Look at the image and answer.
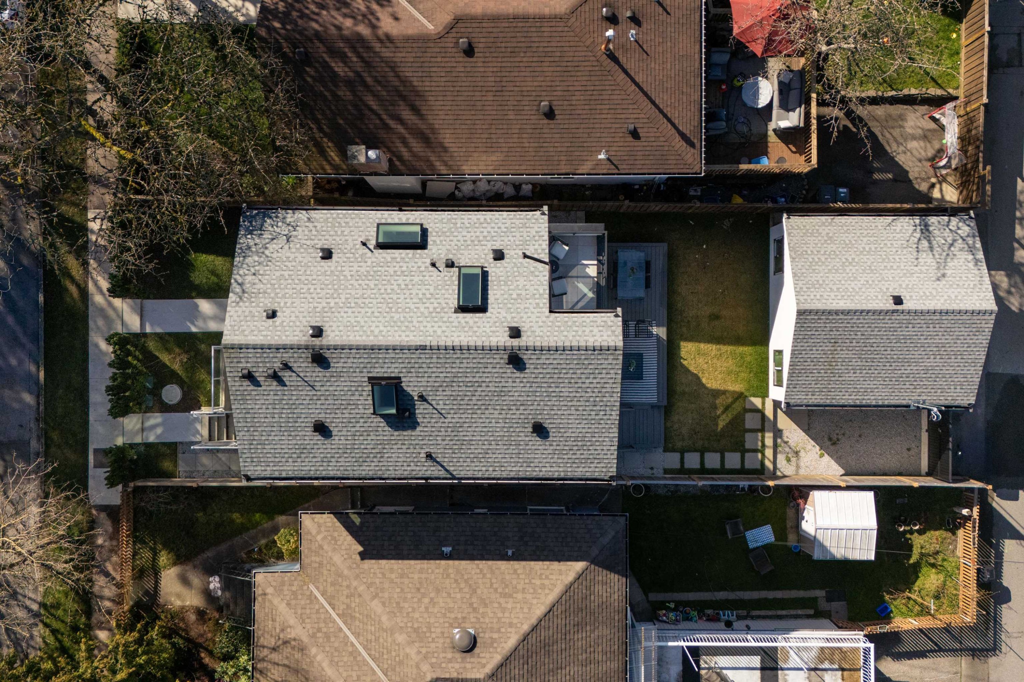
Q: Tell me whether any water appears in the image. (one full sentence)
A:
No, there's no water in this view.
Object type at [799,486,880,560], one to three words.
shed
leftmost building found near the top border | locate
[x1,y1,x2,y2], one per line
[260,0,708,201]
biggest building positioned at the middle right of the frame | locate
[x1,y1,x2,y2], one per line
[767,209,994,429]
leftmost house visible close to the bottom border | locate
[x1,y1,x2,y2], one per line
[219,505,631,682]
